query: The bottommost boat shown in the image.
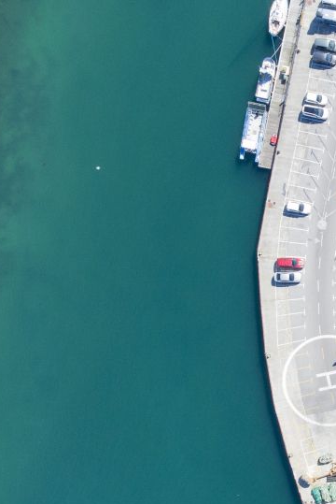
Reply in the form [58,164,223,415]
[240,100,267,163]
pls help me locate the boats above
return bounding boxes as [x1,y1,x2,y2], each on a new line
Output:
[255,57,276,105]
[240,100,267,163]
[268,0,291,39]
